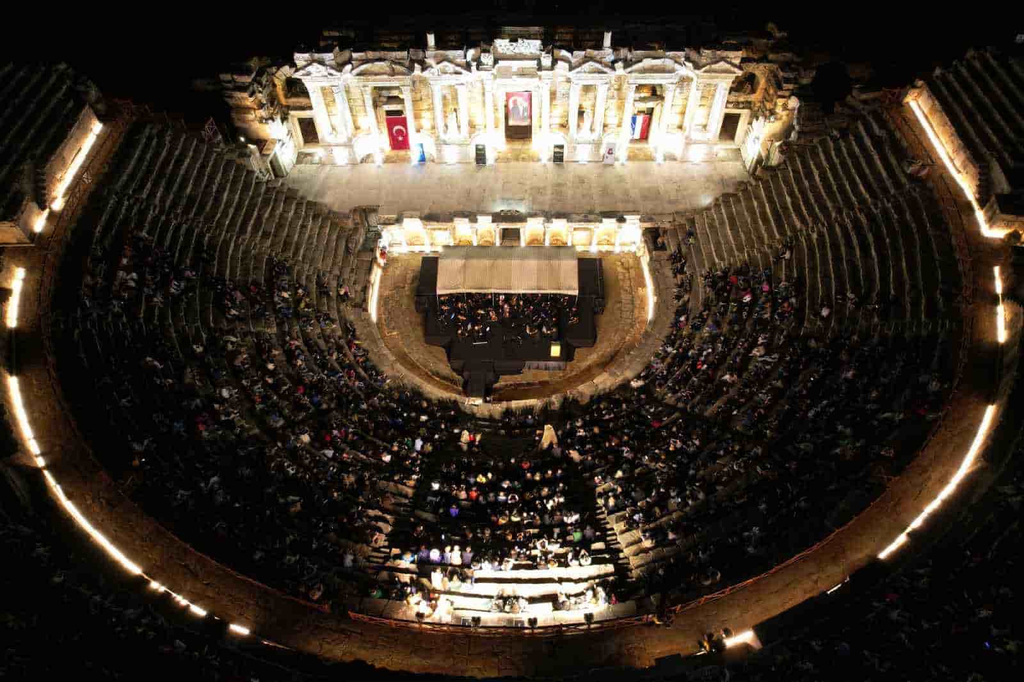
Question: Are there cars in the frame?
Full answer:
No, there appears to be no car in this shot.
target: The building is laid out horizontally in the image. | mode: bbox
[279,15,757,161]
